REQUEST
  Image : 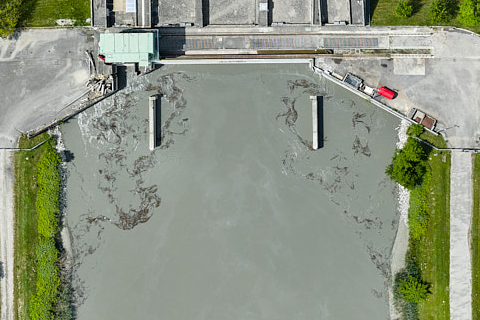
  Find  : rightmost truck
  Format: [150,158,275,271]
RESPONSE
[411,110,440,131]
